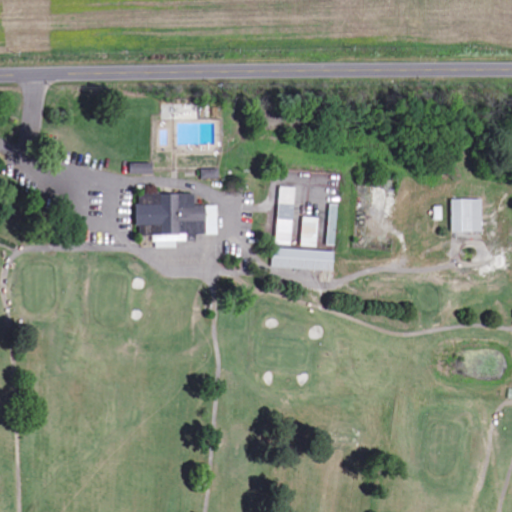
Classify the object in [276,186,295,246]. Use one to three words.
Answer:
shed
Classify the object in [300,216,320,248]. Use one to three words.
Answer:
shed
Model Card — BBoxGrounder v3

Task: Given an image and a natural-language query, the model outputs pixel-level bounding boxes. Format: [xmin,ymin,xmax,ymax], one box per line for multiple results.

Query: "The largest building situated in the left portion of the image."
[136,194,205,248]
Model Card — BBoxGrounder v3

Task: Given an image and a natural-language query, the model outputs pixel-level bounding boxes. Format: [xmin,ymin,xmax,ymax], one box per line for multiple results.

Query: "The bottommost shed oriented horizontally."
[272,247,335,272]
